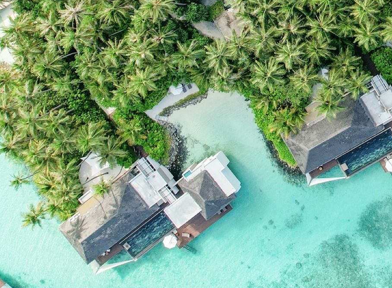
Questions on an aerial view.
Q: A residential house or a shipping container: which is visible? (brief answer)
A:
residential house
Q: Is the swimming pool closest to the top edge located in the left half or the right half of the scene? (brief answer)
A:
right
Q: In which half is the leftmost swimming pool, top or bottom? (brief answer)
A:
bottom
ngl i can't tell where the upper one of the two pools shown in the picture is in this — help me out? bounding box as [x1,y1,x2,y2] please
[335,126,392,180]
